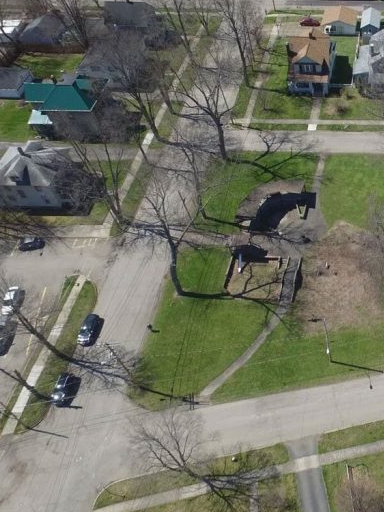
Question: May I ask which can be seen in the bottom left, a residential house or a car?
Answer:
car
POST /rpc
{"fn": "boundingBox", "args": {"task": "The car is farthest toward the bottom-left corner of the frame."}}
[47,371,76,407]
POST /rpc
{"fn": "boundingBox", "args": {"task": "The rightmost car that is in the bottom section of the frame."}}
[74,311,102,346]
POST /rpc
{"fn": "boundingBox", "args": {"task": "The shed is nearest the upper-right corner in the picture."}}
[361,8,381,39]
